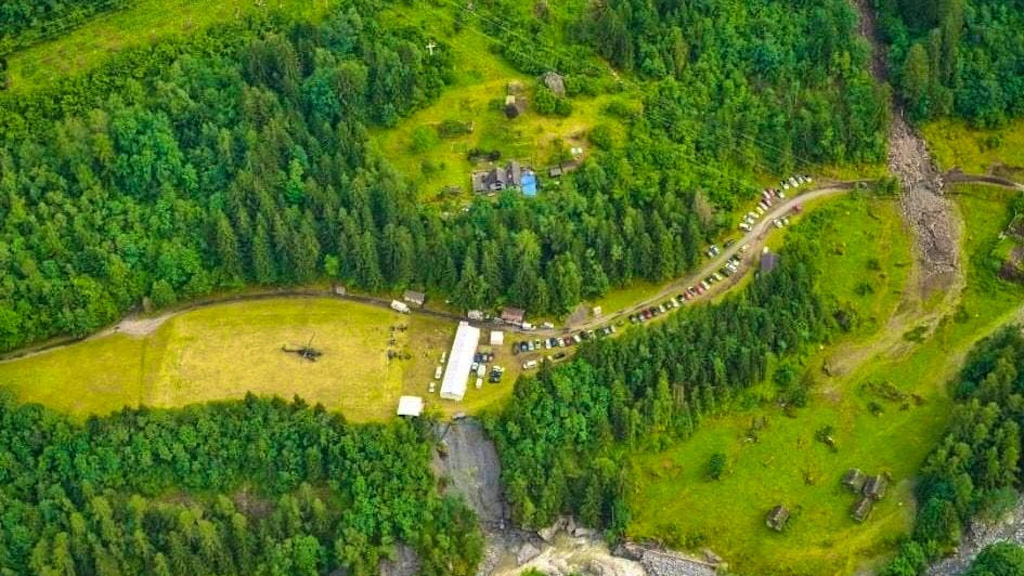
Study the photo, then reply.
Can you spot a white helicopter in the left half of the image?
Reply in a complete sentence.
No, in the left half of the image there is no white helicopter.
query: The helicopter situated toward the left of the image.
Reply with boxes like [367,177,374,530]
[276,331,329,366]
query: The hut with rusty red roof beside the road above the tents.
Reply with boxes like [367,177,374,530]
[502,308,525,325]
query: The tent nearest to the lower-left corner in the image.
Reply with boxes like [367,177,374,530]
[397,397,422,418]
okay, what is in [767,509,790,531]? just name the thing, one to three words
shed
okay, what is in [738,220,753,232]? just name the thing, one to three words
vehicle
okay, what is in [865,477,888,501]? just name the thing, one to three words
shed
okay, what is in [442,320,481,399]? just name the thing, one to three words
tent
